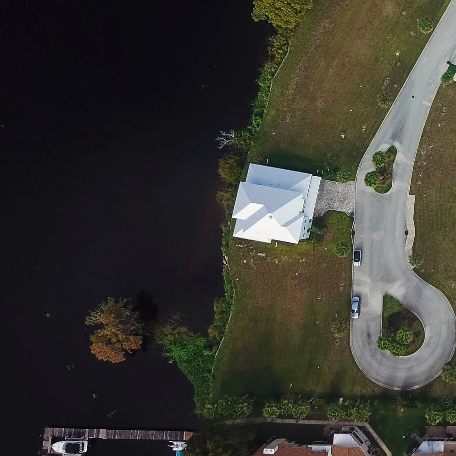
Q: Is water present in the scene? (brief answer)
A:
Yes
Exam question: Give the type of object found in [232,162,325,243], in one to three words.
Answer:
house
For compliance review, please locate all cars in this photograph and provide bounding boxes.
[354,248,363,268]
[351,296,361,318]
